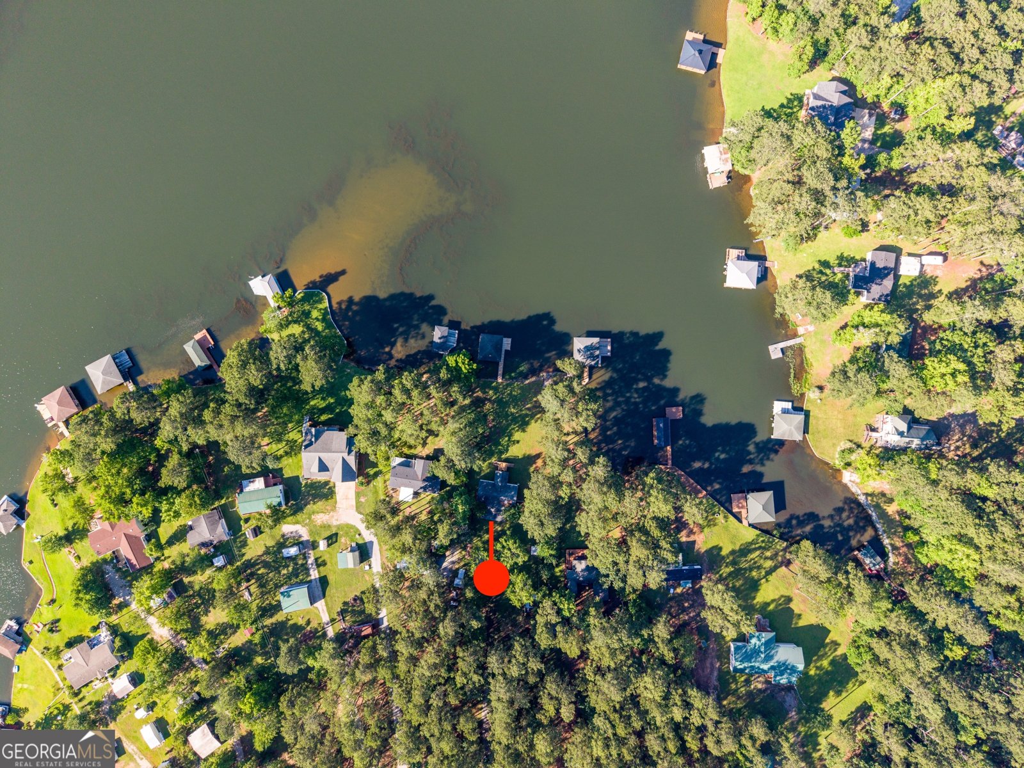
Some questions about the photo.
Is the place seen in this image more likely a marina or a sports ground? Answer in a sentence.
What you see here is a marina.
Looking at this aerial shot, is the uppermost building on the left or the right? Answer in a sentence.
The uppermost building appears in the right half of the scene.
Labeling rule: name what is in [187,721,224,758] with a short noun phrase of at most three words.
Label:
building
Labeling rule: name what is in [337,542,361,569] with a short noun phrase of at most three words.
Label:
barn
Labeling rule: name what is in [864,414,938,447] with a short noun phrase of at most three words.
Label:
house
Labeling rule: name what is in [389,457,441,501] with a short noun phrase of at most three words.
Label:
house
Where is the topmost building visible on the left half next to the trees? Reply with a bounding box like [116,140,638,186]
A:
[248,274,284,309]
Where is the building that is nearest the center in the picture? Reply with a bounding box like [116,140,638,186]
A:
[478,334,511,361]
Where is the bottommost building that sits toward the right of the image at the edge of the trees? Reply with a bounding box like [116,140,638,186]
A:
[728,612,806,685]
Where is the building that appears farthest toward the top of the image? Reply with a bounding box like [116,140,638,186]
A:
[676,29,724,78]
